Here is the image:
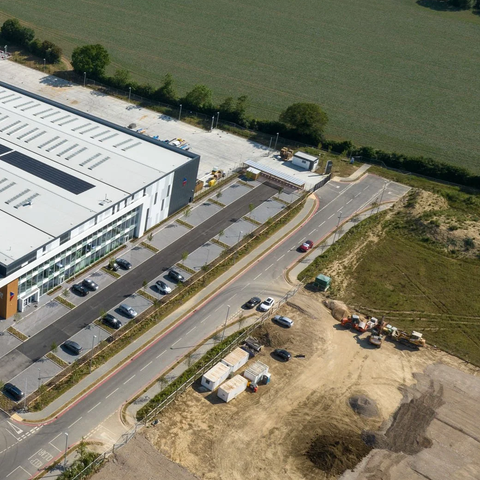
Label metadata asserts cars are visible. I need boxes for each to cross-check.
[273,311,296,327]
[81,277,100,291]
[245,295,264,308]
[259,296,276,310]
[109,260,121,270]
[103,313,123,329]
[63,338,85,354]
[154,278,174,293]
[167,268,187,283]
[118,302,139,318]
[2,381,25,400]
[71,284,89,295]
[114,257,134,269]
[270,346,295,362]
